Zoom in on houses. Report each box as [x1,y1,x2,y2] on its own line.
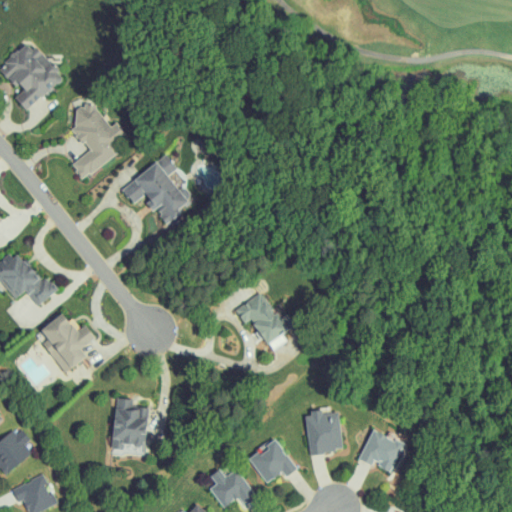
[210,469,254,508]
[118,151,194,226]
[233,292,290,343]
[40,314,96,374]
[306,410,344,457]
[249,440,298,482]
[8,474,57,512]
[358,429,408,475]
[0,428,34,481]
[2,42,65,110]
[110,398,150,450]
[72,99,124,179]
[0,252,58,308]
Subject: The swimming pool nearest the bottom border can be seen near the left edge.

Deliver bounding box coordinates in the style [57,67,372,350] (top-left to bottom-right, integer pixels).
[20,358,50,385]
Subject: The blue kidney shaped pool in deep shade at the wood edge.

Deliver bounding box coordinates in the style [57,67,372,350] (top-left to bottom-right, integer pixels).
[200,162,220,190]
